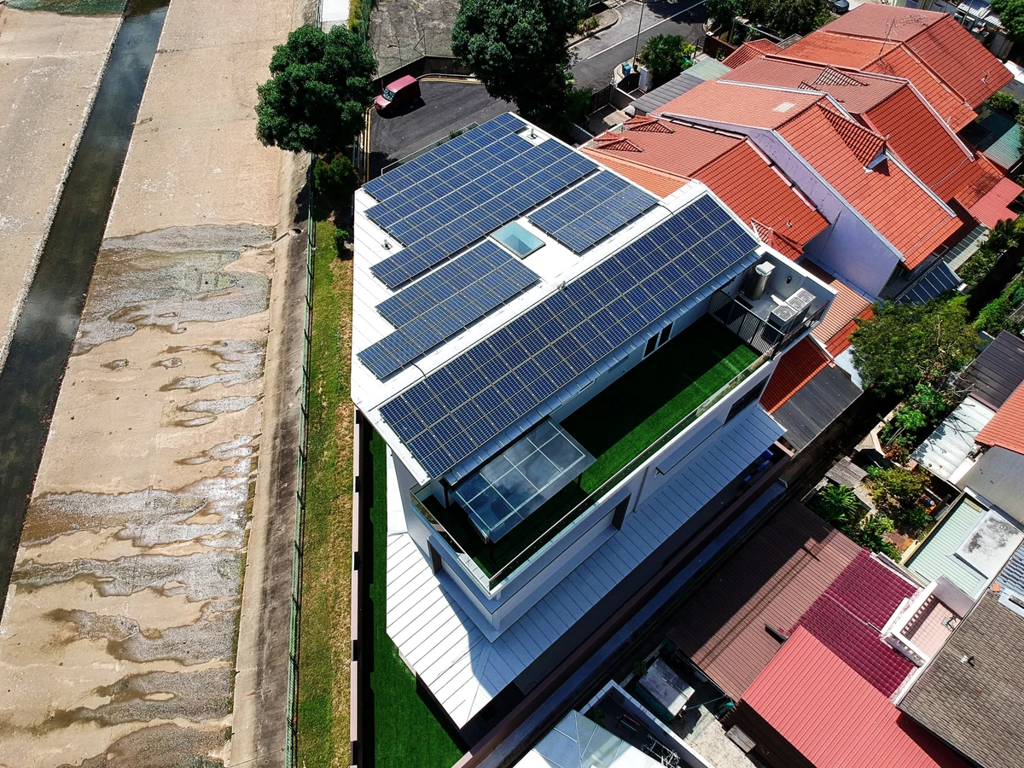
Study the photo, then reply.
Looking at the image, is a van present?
Yes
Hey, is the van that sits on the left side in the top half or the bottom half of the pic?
top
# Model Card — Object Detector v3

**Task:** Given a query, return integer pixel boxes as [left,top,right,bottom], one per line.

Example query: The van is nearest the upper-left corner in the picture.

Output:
[371,75,423,121]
